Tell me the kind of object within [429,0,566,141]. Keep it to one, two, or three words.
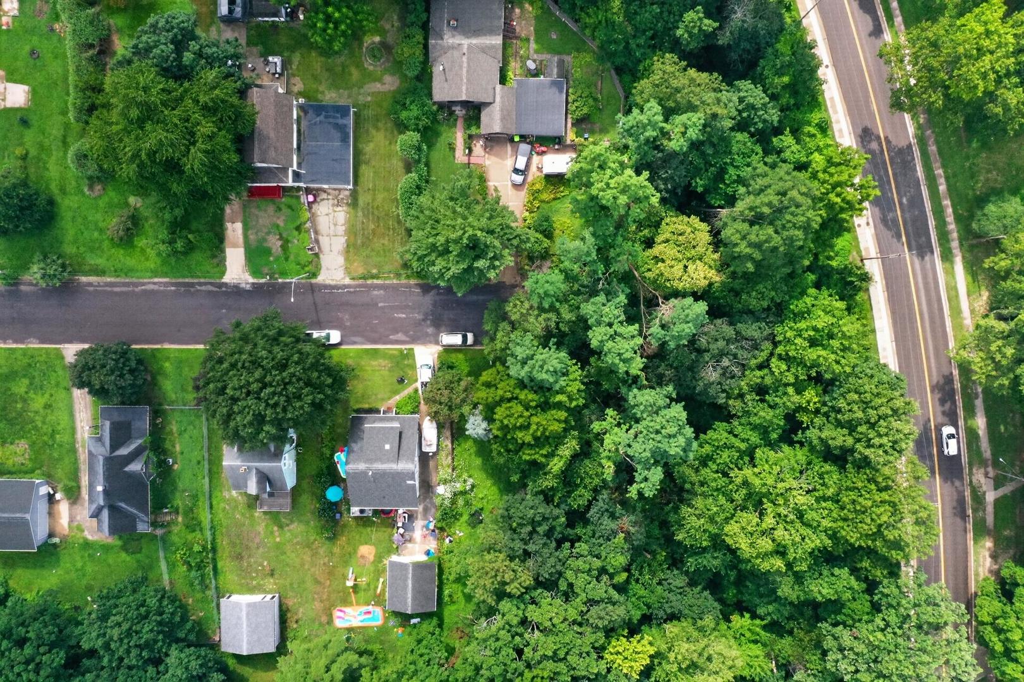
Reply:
house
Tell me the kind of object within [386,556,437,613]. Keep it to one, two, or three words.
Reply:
building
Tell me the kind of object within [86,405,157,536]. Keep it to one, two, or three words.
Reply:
house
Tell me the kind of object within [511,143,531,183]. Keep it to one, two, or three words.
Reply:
vehicle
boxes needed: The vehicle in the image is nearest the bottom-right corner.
[938,424,958,456]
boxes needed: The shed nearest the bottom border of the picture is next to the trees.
[220,595,280,655]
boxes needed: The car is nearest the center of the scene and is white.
[440,331,474,347]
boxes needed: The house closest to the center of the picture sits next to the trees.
[346,414,421,510]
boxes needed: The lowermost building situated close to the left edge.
[0,479,50,552]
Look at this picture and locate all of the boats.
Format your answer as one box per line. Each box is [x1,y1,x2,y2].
[423,418,437,457]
